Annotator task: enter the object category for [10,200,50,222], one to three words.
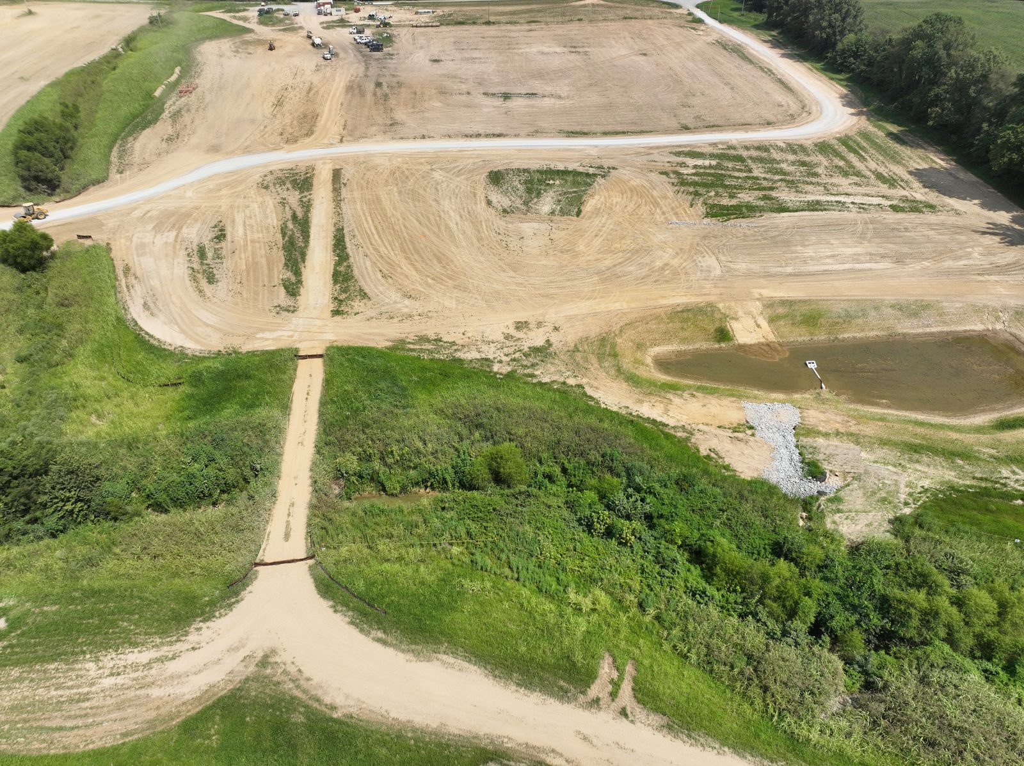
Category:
work vehicle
